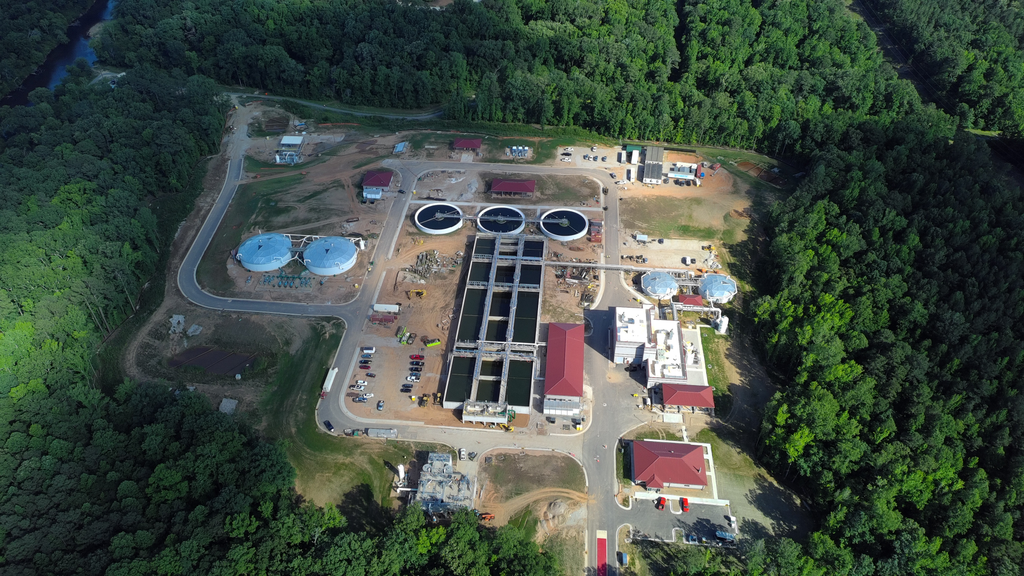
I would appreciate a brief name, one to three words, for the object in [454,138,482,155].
building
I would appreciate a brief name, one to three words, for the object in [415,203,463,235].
storage tank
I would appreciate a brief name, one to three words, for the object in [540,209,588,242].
storage tank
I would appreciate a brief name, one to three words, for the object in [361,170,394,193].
building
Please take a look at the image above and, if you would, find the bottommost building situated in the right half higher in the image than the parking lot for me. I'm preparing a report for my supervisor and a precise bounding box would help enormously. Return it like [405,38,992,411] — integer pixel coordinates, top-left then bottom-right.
[633,441,707,493]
